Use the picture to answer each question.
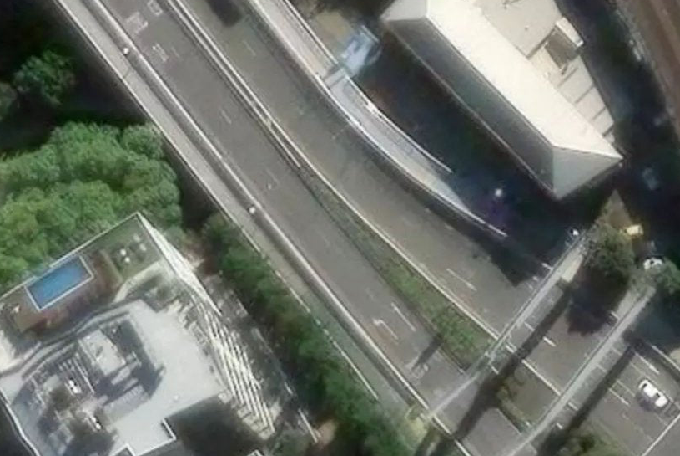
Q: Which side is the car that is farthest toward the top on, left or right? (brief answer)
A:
right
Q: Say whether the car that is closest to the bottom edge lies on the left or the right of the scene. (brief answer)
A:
right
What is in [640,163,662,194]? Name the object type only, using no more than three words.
car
